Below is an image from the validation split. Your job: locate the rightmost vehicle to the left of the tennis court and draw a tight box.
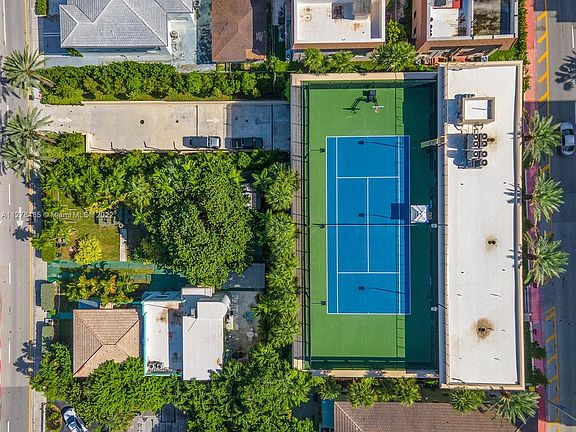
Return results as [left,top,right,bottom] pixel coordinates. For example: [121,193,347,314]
[226,136,263,151]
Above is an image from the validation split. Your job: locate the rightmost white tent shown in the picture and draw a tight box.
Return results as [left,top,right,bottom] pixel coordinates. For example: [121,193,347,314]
[406,204,428,223]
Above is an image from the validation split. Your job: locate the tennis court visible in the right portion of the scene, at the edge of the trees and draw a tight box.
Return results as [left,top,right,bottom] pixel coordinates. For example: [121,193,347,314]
[302,80,436,370]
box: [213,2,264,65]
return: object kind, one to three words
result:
house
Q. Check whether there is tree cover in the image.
Yes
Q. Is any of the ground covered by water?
No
